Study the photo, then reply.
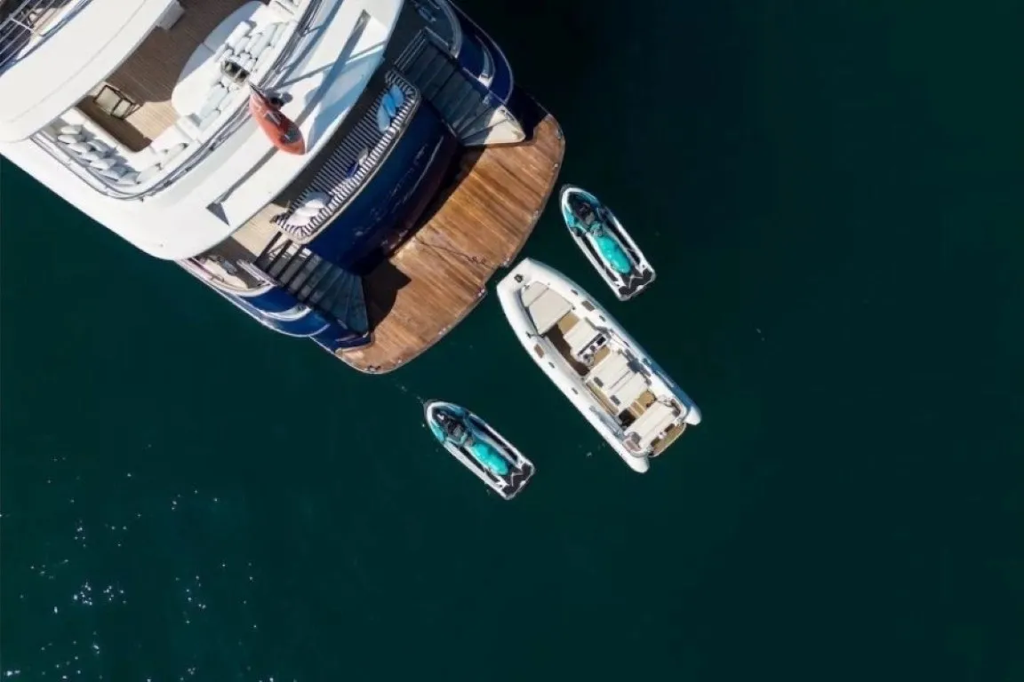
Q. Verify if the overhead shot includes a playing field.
No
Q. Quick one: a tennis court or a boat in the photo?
boat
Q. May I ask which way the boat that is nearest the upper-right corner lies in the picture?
at an angle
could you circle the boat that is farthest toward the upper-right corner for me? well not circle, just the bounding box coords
[562,185,655,300]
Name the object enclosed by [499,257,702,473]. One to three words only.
boat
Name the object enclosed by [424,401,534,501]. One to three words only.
boat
